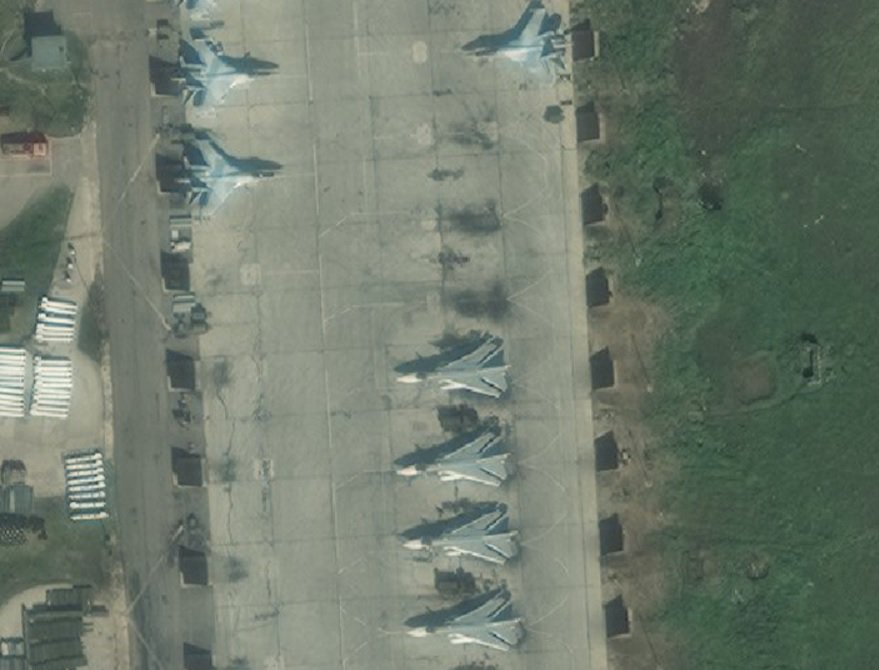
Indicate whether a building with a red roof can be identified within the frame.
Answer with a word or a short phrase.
No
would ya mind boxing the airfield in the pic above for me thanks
[90,0,606,670]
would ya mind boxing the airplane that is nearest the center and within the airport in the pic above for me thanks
[396,342,512,395]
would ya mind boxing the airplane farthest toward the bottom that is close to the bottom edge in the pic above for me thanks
[407,592,523,646]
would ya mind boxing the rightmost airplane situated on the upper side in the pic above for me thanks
[464,8,573,85]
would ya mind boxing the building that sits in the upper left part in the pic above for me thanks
[31,36,66,73]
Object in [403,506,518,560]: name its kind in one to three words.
airplane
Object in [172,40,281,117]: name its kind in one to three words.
airplane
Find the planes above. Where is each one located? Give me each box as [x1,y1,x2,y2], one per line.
[403,506,518,560]
[396,342,512,395]
[394,432,512,485]
[407,592,523,646]
[172,40,281,117]
[176,141,284,218]
[464,8,573,85]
